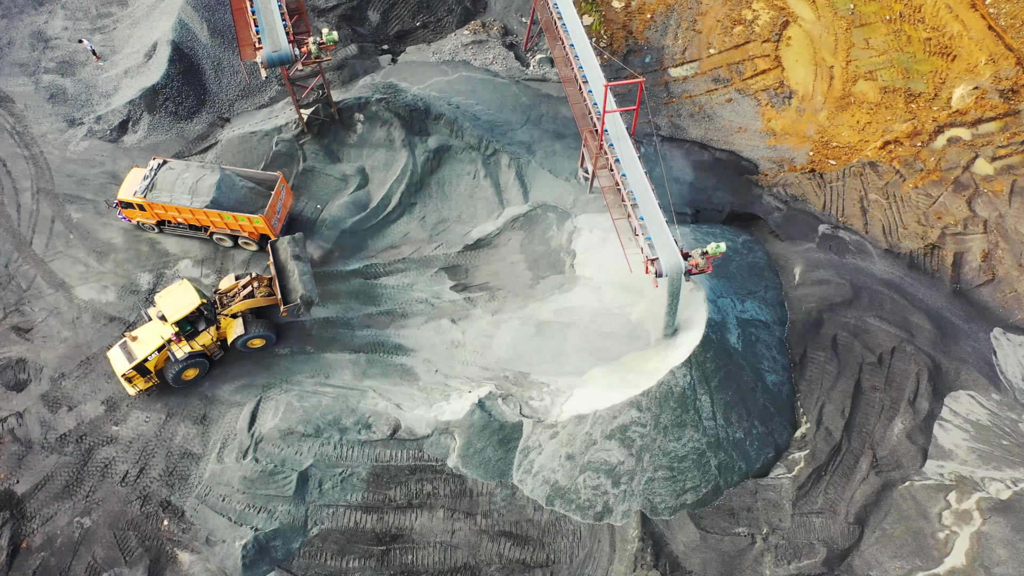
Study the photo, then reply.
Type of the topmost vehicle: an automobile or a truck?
truck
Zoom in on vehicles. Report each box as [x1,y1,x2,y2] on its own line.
[98,154,294,251]
[111,242,325,396]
